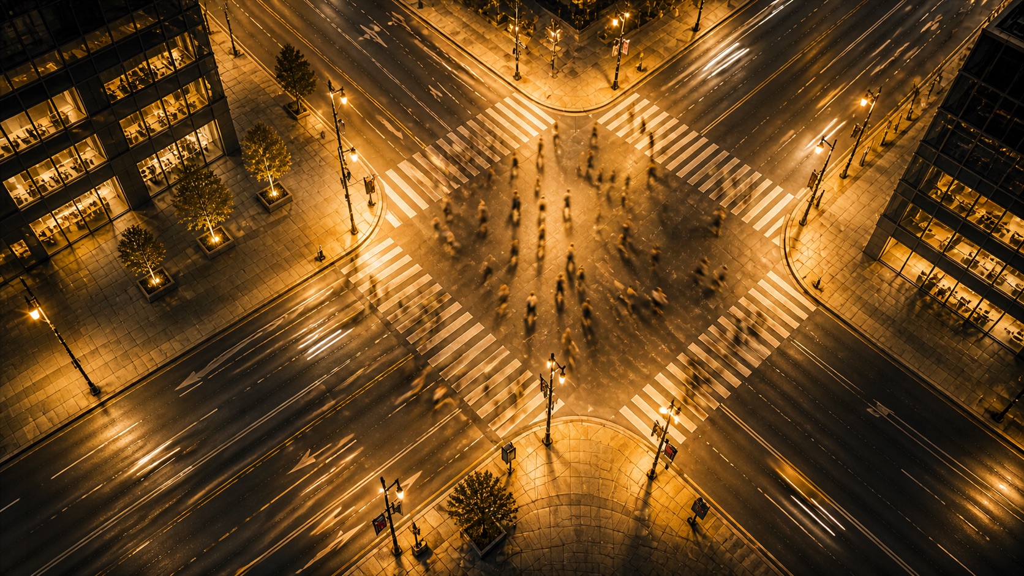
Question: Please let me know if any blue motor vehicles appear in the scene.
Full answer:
No, I can't see a single blue motor vehicle in this photo.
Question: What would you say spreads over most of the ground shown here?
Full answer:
The bulk of the photo consists of paved ground.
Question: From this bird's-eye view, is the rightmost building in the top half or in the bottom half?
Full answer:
It is in the top half that the rightmost building appears.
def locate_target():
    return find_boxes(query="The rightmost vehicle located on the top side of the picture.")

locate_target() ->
[800,100,856,152]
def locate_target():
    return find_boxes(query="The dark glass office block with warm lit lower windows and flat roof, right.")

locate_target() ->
[863,0,1024,361]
